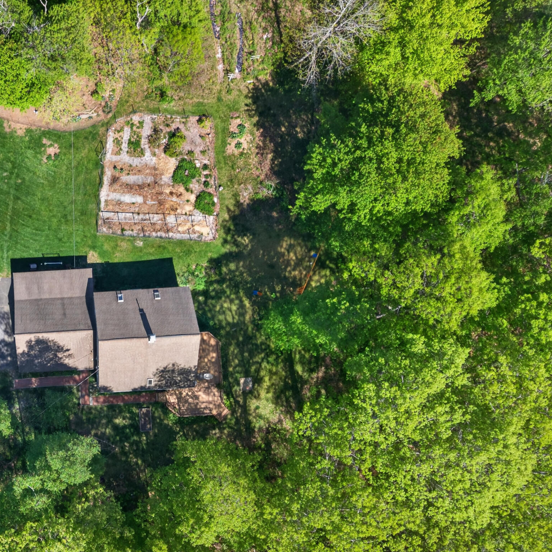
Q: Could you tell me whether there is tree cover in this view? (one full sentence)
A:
Yes, there is tree cover in the image.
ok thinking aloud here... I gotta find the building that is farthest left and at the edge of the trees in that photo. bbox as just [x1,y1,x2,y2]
[10,268,94,373]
